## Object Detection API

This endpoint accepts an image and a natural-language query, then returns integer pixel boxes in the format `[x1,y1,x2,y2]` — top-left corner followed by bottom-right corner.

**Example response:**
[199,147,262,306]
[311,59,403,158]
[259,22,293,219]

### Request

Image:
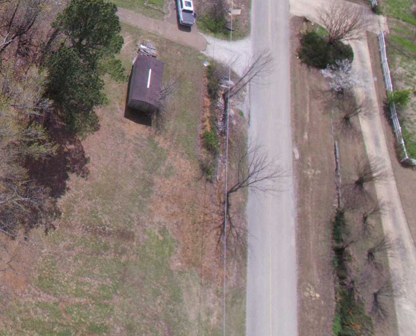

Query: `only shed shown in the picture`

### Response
[124,54,165,119]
